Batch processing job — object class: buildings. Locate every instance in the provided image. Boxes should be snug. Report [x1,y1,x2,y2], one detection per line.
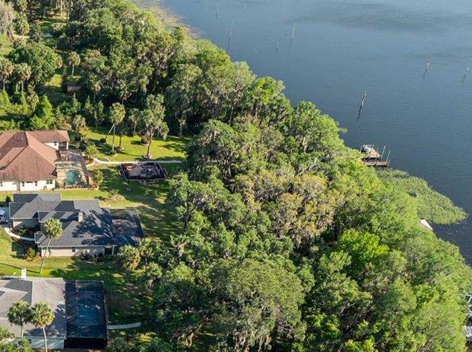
[0,265,107,349]
[0,128,90,189]
[9,193,142,254]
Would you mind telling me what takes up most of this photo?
trees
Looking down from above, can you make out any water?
Yes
